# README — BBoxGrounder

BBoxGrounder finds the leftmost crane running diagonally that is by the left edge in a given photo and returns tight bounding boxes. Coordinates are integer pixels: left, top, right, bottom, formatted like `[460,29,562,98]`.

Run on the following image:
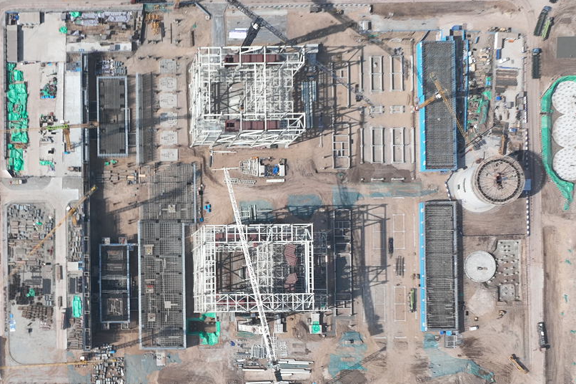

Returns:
[0,184,99,286]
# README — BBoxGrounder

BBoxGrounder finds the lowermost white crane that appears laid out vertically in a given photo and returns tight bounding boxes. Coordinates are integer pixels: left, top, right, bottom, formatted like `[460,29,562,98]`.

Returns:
[206,168,287,384]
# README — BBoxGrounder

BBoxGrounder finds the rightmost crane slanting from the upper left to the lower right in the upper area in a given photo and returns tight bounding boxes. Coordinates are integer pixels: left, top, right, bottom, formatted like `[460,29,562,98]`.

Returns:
[414,71,484,162]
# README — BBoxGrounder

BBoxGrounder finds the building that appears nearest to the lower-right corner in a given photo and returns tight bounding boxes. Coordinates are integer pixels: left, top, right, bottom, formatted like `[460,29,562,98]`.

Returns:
[420,201,460,331]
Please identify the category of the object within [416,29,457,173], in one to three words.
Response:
building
